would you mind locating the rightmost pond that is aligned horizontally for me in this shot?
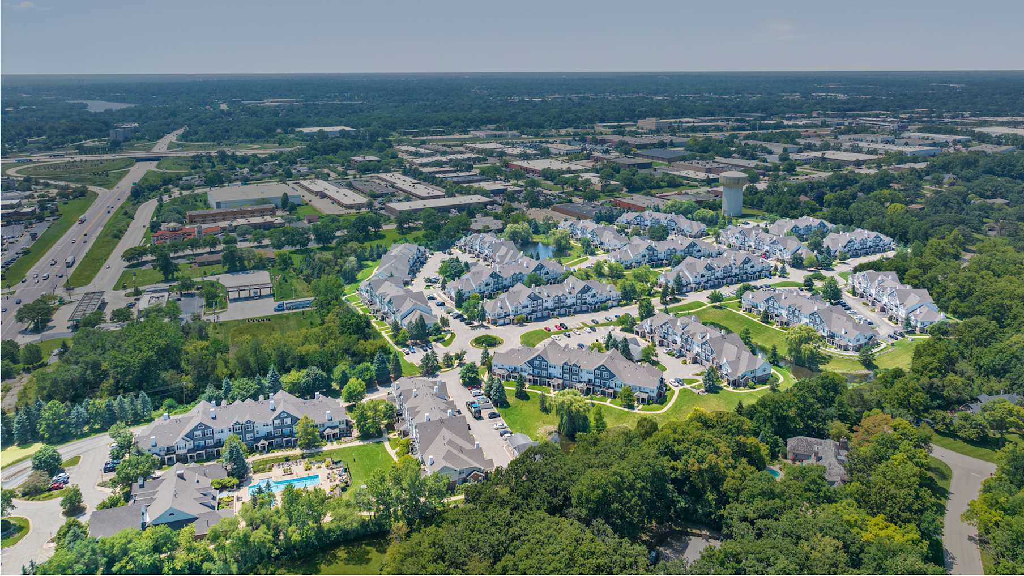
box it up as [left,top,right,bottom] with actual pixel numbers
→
[753,350,881,390]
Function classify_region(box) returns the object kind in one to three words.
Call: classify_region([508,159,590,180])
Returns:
building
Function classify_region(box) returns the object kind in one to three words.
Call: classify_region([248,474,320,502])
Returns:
swimming pool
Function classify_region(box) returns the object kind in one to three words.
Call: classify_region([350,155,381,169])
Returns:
building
